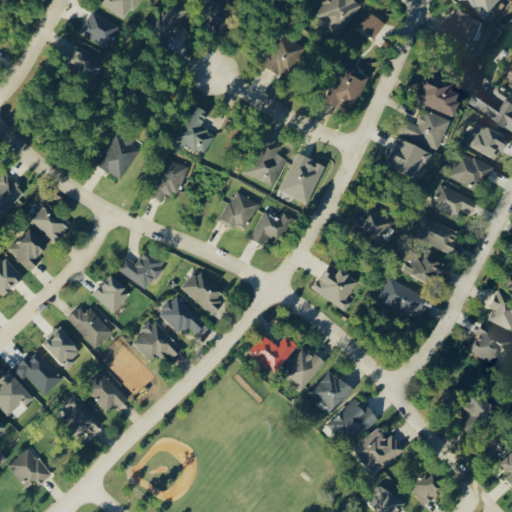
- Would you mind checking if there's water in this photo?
No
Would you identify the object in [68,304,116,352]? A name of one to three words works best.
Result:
house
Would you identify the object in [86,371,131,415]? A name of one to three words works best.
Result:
house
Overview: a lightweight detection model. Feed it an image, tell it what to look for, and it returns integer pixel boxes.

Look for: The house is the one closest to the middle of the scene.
[248,216,288,250]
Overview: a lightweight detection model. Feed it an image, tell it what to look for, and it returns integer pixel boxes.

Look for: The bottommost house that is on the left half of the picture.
[6,446,52,492]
